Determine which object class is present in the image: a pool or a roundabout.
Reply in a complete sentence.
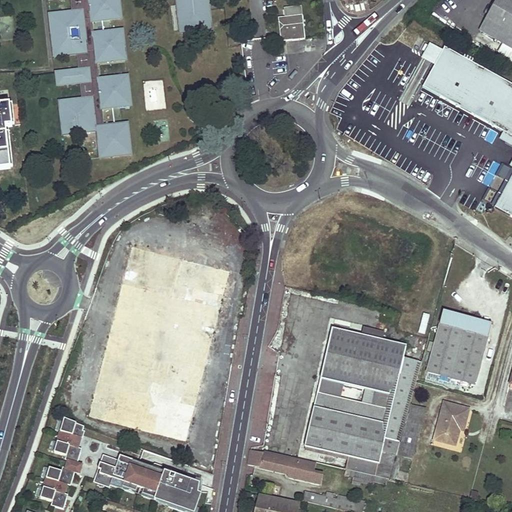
Looking from above, you can make out a roundabout.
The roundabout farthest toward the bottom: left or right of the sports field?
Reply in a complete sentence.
In the image, the roundabout farthest toward the bottom sits on the left side of the sports field.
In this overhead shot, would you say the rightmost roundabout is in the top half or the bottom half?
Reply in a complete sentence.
You can find the rightmost roundabout in the top half.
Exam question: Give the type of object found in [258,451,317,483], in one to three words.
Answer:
barn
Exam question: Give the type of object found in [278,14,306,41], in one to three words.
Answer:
house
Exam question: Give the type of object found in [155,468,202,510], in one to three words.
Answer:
building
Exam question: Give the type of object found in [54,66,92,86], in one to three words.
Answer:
shed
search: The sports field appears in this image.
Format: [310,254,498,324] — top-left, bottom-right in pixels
[88,246,230,441]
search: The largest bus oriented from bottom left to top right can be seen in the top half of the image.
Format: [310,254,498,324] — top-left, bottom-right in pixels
[352,11,381,34]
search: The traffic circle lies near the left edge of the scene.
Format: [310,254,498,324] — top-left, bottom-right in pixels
[0,228,96,351]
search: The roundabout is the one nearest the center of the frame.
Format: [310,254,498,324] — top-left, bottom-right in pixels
[191,82,360,244]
